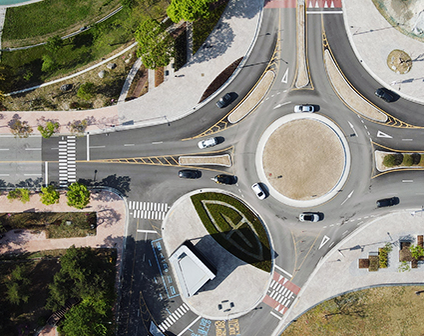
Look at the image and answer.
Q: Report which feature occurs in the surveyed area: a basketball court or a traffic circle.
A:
traffic circle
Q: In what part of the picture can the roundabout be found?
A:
right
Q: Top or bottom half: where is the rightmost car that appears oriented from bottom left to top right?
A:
top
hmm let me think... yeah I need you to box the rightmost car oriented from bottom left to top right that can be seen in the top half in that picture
[214,90,236,109]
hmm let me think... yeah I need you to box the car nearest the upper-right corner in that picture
[372,85,397,102]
